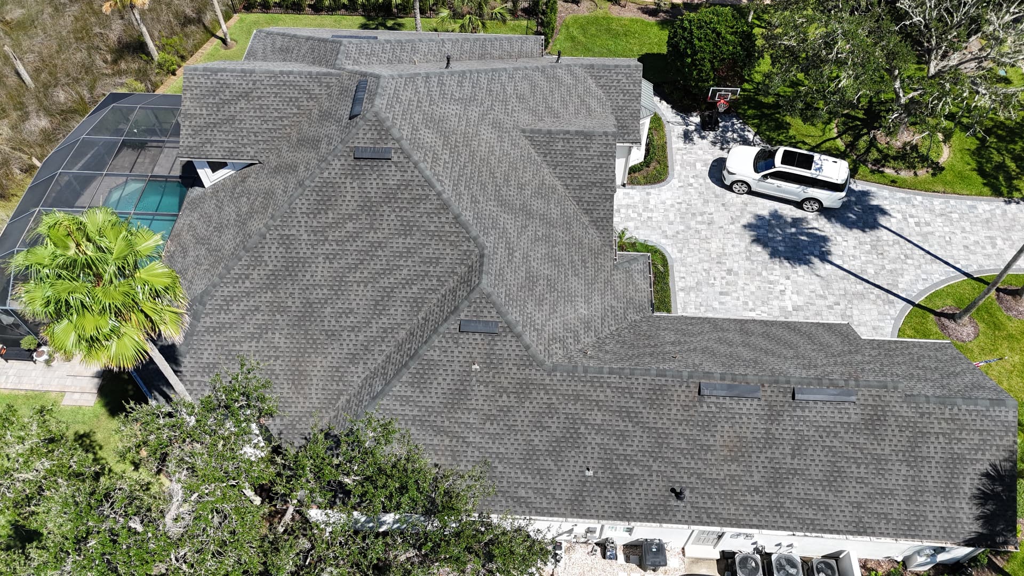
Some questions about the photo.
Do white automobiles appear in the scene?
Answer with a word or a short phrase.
Yes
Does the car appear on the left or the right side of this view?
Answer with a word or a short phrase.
right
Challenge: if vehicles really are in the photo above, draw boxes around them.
[723,148,854,212]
